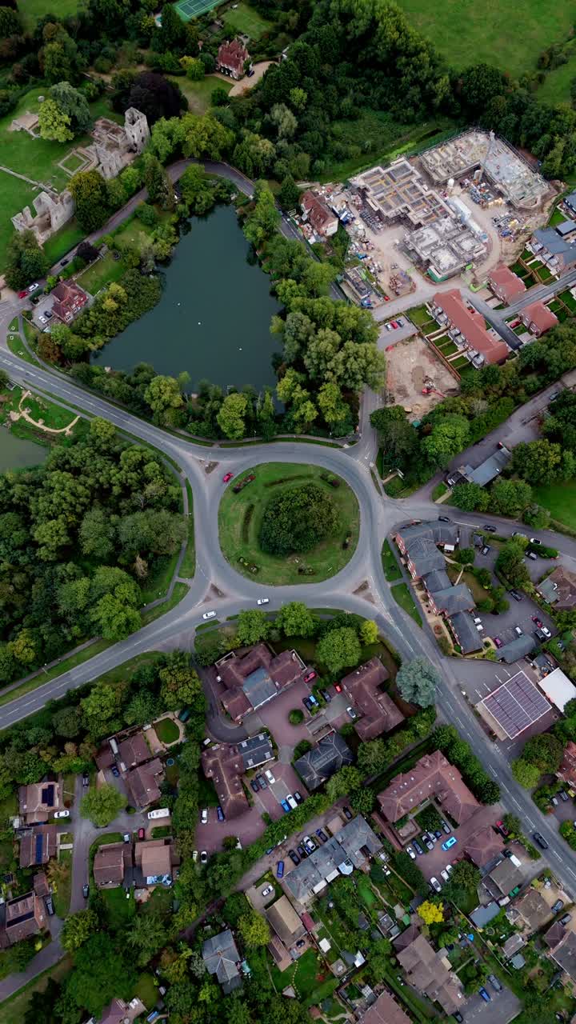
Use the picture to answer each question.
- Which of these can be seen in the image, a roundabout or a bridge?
roundabout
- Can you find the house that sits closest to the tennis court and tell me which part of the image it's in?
top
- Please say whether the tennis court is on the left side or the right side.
left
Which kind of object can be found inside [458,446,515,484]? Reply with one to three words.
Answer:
building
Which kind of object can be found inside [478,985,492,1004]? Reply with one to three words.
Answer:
car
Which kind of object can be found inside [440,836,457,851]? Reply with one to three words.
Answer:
vehicle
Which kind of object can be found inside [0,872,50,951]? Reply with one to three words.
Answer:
house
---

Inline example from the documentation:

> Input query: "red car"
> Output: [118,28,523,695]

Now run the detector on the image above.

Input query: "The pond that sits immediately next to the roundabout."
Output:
[90,204,285,396]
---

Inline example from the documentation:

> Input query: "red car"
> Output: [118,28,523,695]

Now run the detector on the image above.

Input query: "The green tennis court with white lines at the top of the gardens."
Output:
[174,0,225,21]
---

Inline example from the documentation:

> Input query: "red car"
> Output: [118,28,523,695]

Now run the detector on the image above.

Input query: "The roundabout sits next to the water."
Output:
[178,440,387,622]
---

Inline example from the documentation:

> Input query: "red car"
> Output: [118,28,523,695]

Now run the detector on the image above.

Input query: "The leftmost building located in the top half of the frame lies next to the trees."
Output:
[50,281,90,324]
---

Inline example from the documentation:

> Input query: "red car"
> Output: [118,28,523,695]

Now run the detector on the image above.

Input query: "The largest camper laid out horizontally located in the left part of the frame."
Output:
[147,807,171,819]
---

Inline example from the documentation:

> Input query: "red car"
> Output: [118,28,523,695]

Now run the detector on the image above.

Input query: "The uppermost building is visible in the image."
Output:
[214,37,253,83]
